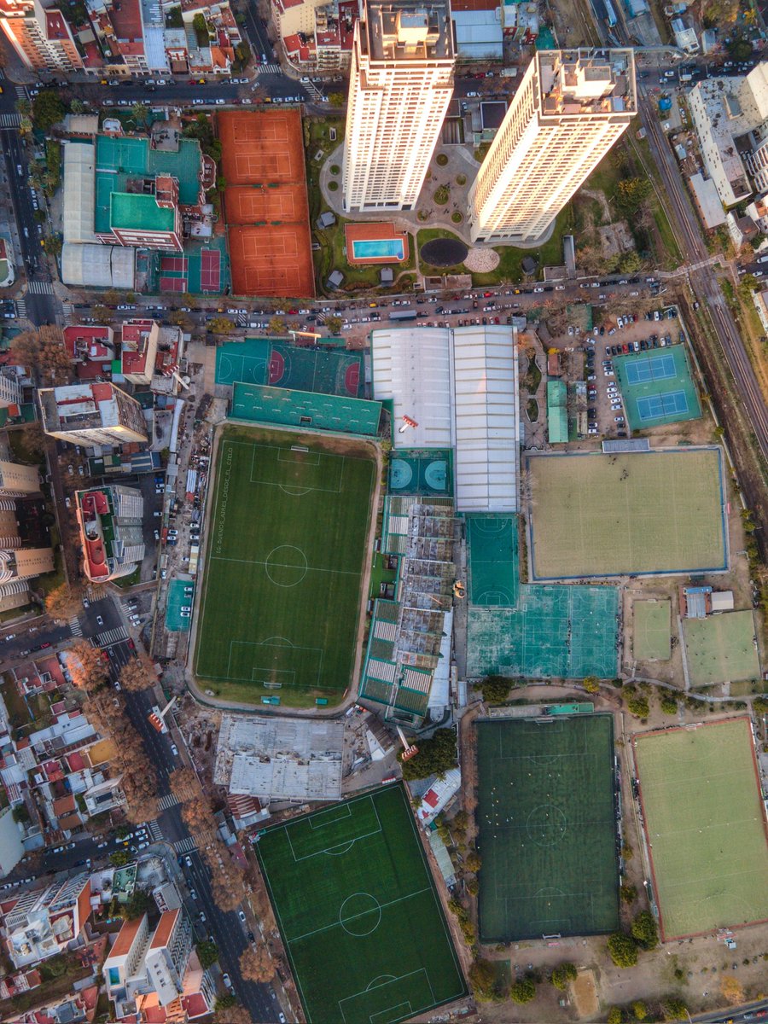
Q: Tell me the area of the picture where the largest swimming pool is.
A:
top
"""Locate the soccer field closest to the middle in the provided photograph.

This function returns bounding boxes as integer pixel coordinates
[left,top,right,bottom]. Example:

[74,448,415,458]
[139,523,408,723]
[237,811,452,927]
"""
[196,441,375,688]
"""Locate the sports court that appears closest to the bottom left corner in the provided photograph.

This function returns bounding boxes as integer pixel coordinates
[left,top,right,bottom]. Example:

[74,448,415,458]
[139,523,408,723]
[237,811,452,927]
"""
[166,579,193,631]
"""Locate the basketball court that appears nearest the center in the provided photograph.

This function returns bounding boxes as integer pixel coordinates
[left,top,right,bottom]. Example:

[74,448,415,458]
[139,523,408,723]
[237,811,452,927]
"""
[389,449,453,495]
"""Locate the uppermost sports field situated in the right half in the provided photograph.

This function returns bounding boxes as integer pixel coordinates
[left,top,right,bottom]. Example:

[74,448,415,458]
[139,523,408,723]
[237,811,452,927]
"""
[527,448,727,579]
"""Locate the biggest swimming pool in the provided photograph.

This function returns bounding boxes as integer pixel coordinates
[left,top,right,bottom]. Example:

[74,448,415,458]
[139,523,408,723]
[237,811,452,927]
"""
[346,223,409,264]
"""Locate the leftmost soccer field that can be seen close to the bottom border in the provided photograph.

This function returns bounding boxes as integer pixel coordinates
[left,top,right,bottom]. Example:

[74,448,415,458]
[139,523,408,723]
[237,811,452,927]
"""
[251,780,470,1024]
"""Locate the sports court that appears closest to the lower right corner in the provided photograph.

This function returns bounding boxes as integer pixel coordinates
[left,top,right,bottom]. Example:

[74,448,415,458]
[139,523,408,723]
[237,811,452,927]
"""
[571,966,602,1020]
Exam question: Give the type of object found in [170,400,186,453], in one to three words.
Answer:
shed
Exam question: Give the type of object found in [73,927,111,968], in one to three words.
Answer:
house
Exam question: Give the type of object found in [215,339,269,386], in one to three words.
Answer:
sports court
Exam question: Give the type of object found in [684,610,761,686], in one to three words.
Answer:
soccer field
